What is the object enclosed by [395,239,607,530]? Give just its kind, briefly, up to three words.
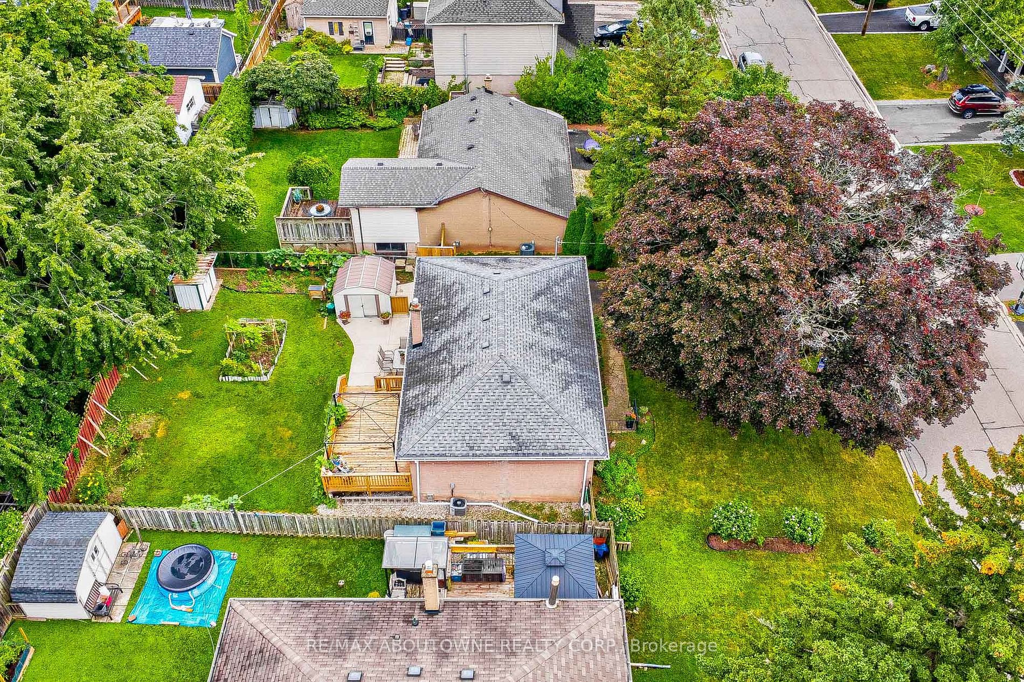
house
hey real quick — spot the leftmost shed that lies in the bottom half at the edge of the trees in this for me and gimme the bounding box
[4,514,119,617]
